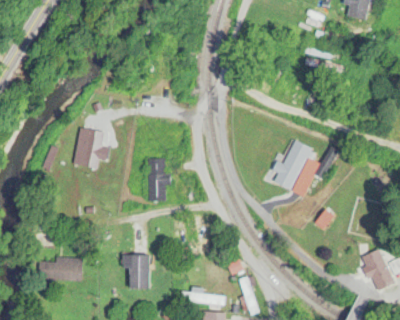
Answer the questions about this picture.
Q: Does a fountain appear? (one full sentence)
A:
No, this view has no fountain in it.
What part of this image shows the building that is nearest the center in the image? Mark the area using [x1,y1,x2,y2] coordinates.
[148,158,174,200]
